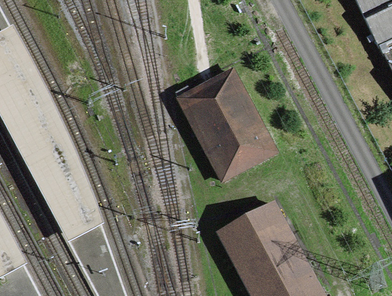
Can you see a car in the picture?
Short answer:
No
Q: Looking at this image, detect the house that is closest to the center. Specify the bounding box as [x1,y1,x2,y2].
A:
[176,68,279,182]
